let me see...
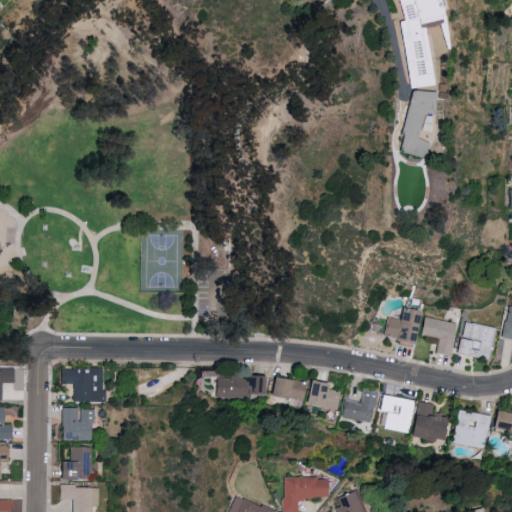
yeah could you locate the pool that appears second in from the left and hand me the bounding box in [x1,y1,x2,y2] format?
[454,446,475,458]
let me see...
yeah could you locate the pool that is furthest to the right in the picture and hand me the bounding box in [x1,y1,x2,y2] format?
[490,436,508,456]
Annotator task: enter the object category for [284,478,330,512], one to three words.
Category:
house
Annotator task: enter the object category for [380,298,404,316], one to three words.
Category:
swimming pool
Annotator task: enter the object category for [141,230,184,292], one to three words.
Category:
basketball court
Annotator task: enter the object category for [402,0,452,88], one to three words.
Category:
building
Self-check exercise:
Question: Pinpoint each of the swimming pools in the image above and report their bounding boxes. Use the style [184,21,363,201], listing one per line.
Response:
[490,436,508,456]
[380,298,404,316]
[454,446,475,458]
